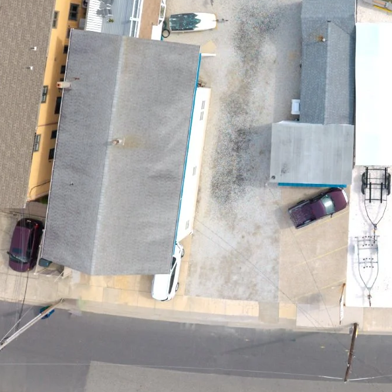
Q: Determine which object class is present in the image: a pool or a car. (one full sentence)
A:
There is a car in the scene.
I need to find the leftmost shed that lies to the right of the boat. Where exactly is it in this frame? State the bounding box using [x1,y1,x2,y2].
[270,0,357,191]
